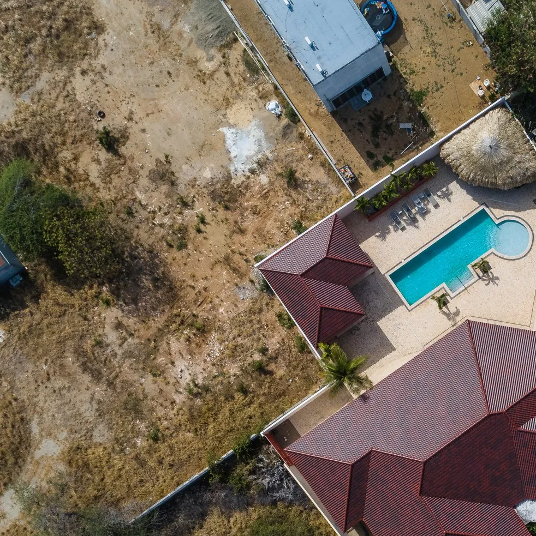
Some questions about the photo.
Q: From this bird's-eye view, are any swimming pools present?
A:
Yes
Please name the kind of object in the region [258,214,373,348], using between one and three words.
building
